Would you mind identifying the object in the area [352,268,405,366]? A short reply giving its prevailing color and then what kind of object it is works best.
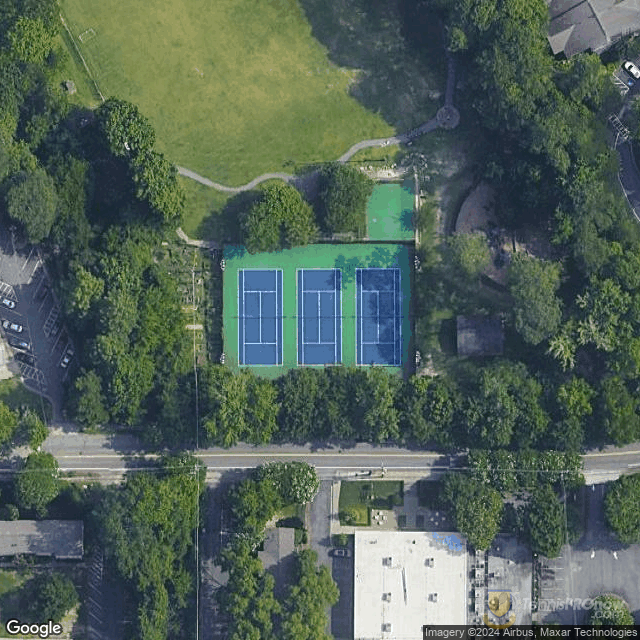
blue tennis court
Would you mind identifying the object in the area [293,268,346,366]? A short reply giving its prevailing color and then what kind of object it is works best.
blue tennis court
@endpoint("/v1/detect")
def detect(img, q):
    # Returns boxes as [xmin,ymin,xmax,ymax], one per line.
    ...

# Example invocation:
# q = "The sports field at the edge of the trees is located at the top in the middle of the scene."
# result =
[63,0,456,184]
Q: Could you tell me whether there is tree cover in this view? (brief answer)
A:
Yes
